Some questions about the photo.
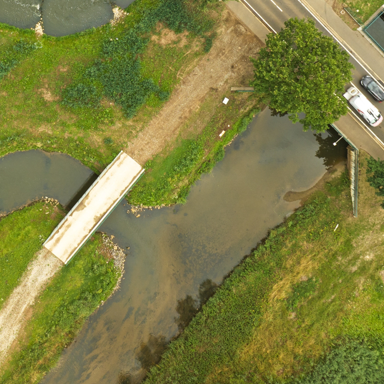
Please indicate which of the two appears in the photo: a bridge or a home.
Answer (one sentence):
There is a bridge in the scene.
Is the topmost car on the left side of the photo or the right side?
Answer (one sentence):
You can find the topmost car on the right side of the picture.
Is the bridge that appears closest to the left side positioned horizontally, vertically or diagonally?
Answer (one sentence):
The bridge that appears closest to the left side runs diagonally in the image.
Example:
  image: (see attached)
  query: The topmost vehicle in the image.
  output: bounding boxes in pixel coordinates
[358,76,384,104]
